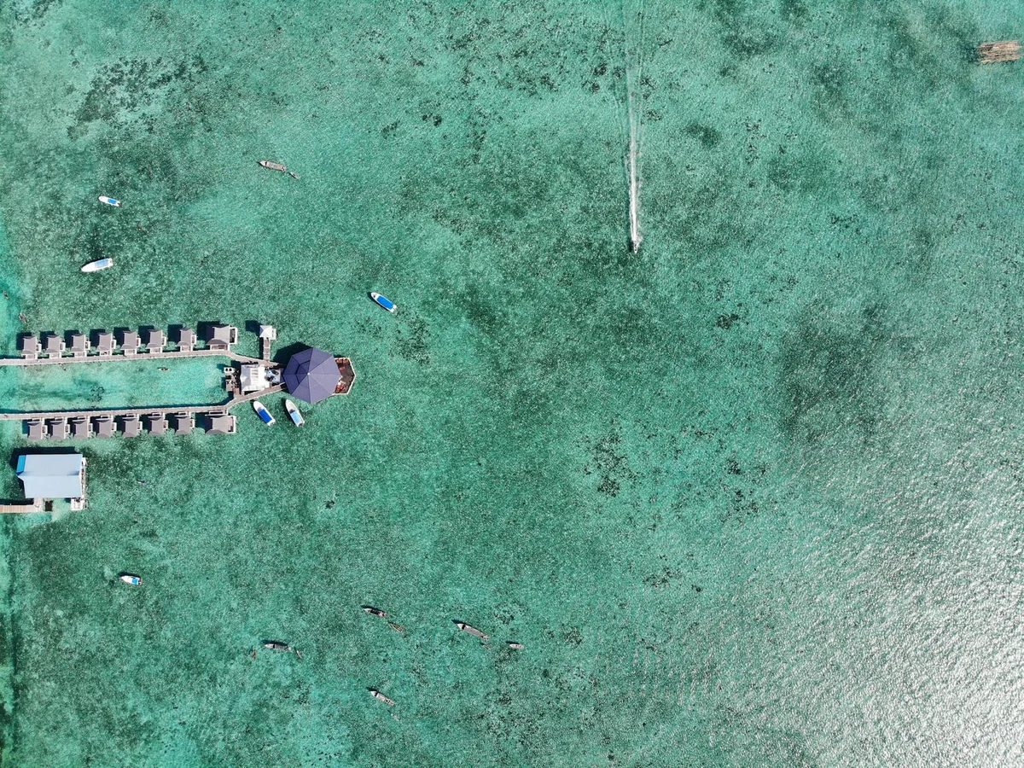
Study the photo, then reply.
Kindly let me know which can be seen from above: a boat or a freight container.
boat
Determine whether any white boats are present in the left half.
Yes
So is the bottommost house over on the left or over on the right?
left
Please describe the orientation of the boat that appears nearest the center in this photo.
at an angle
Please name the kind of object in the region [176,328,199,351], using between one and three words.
house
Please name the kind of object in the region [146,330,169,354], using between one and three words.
house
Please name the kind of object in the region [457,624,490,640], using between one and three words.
boat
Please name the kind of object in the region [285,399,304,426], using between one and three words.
boat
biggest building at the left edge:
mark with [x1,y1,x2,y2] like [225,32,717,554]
[15,454,94,510]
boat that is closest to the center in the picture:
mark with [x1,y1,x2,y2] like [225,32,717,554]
[370,291,396,312]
